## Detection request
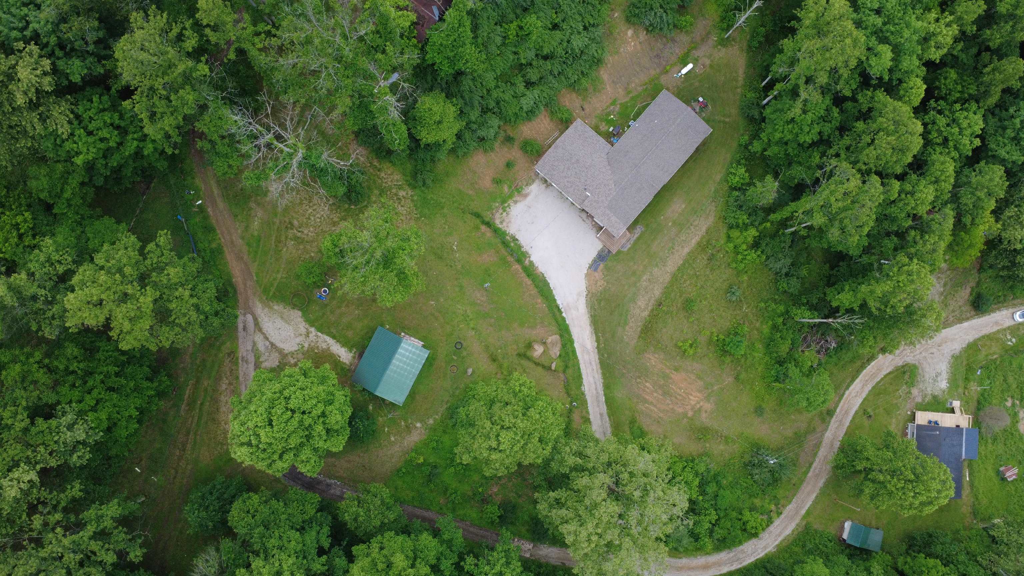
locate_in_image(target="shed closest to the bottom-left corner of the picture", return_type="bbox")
[352,326,429,407]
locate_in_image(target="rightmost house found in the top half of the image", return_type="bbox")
[534,87,711,239]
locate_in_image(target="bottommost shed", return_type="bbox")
[838,519,883,551]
